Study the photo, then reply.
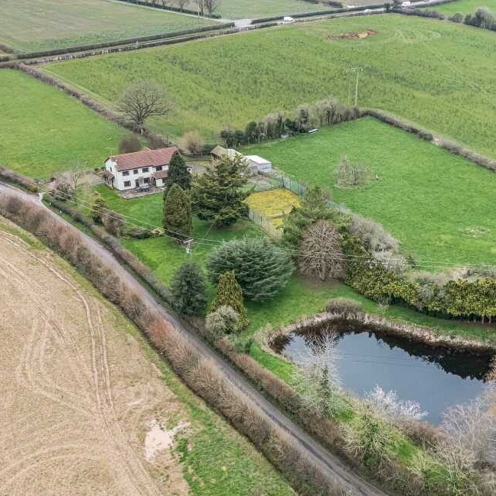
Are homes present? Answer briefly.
Yes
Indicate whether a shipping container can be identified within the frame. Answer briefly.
No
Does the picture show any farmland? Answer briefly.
Yes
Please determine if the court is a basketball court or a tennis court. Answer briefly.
tennis court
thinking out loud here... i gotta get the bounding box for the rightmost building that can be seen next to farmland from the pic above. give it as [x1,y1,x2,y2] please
[248,154,275,174]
